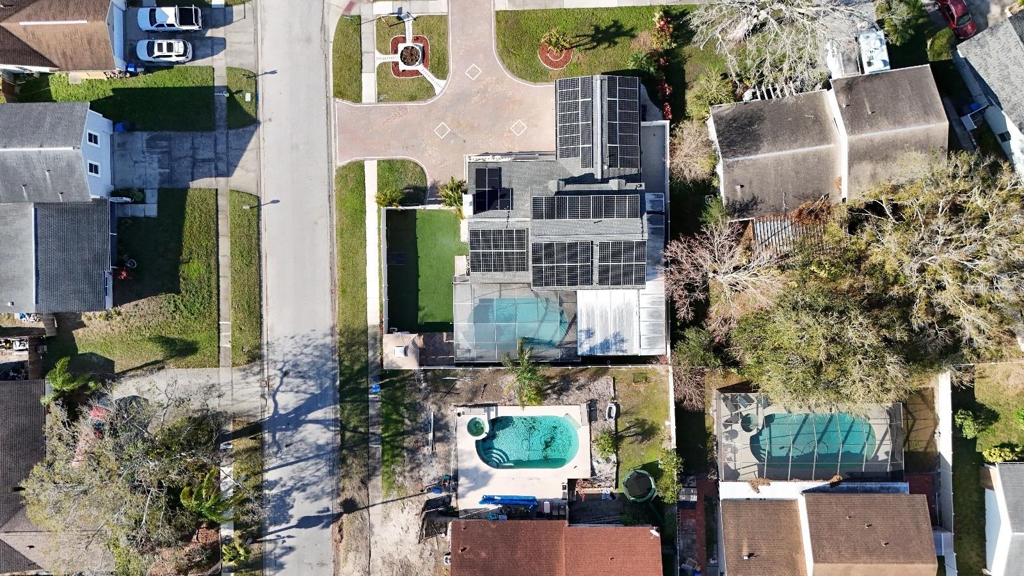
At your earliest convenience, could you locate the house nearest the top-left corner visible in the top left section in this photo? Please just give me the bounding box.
[0,0,126,81]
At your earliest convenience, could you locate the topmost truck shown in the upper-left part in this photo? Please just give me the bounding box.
[138,4,206,33]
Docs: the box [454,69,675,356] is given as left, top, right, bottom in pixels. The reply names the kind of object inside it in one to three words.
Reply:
house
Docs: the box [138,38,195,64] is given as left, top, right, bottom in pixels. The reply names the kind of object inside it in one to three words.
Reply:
car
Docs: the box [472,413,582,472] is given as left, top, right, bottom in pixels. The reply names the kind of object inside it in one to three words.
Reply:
swimming pool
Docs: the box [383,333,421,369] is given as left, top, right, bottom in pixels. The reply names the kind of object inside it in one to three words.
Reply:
gazebo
